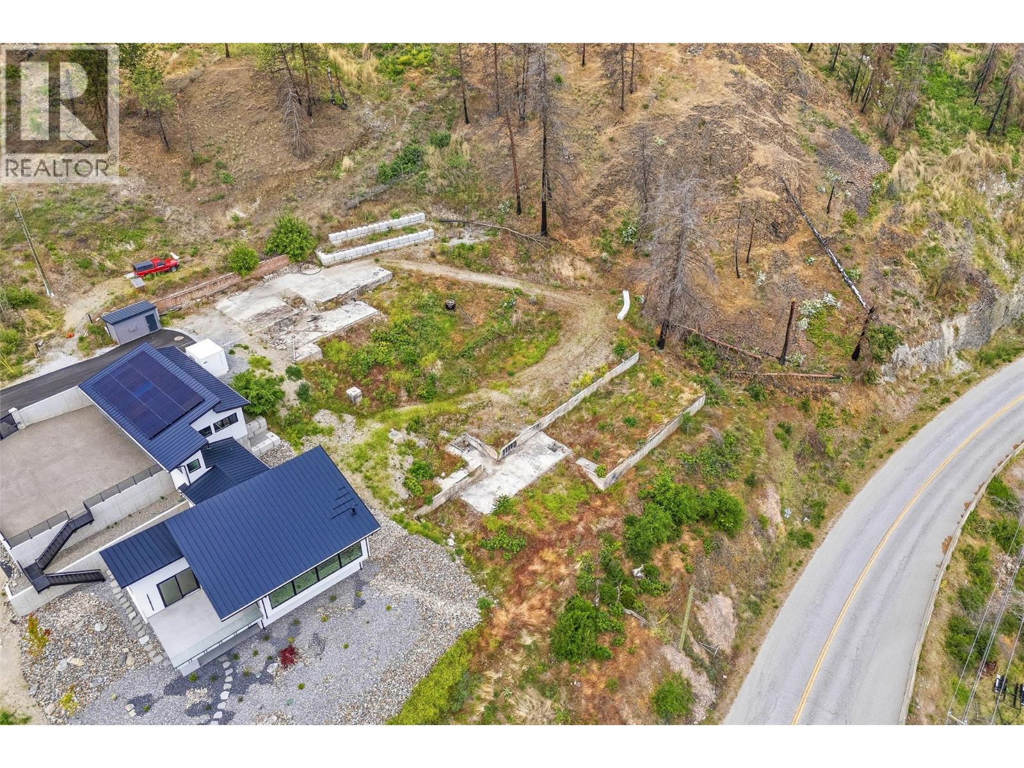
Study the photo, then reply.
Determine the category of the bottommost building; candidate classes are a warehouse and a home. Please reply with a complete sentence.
What you see as the bottommost building is a home.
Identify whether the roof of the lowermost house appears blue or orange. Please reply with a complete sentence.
The roof of the lowermost house is blue.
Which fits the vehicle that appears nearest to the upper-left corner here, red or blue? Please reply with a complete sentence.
The vehicle that appears nearest to the upper-left corner looks red in the image.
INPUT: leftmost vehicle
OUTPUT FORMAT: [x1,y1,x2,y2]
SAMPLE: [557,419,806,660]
[129,255,179,275]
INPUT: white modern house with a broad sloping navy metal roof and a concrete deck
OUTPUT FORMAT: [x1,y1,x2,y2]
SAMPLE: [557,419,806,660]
[97,439,381,678]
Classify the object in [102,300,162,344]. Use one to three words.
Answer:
shed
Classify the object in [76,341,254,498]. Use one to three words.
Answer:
building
